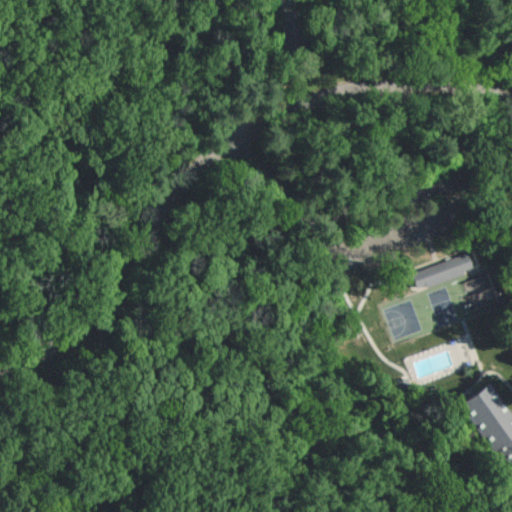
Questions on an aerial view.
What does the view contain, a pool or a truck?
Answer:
pool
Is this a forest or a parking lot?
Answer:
forest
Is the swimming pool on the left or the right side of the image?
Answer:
right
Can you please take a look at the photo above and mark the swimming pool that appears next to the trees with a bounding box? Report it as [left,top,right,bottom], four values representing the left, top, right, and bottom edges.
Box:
[404,343,476,384]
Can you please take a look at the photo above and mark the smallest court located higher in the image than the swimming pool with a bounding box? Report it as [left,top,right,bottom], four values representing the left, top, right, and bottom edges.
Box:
[428,288,455,320]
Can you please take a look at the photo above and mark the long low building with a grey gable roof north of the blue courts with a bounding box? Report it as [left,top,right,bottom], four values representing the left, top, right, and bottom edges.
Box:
[419,254,475,288]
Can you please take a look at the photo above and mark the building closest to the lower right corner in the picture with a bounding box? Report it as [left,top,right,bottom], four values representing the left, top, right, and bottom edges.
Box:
[468,387,512,463]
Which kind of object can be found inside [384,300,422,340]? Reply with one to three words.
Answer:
basketball court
